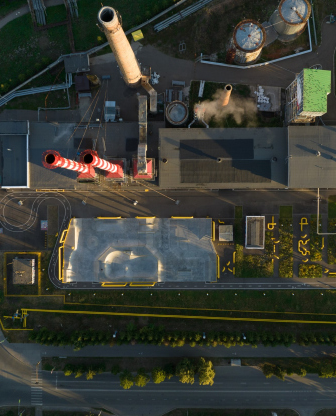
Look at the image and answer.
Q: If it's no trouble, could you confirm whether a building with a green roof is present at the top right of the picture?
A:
Yes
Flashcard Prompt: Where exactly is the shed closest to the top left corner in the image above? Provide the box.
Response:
[64,53,90,75]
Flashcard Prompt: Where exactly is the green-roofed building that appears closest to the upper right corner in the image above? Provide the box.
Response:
[282,64,332,126]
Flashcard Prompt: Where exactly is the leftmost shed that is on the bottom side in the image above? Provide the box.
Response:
[13,257,37,284]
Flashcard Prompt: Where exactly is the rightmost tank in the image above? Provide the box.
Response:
[271,0,311,39]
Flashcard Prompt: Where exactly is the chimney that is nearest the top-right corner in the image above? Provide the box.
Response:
[216,84,232,110]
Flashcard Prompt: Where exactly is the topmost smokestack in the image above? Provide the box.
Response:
[98,5,142,89]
